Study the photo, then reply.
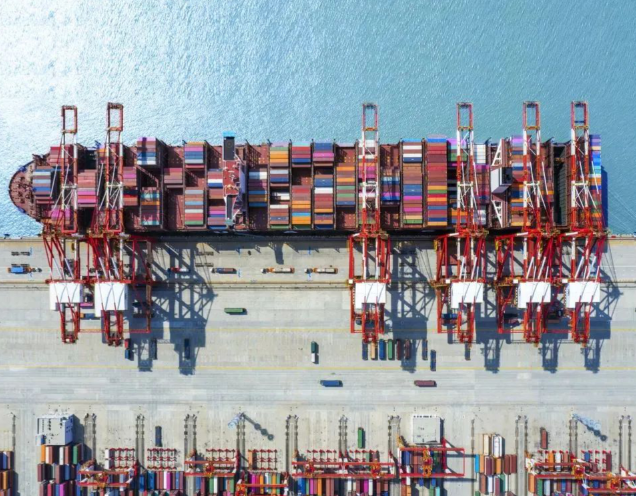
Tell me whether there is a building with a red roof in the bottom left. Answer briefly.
No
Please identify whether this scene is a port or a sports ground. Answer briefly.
port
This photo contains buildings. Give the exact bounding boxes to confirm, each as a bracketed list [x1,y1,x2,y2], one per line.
[37,412,76,445]
[407,411,440,442]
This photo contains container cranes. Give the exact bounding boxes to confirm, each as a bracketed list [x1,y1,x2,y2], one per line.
[491,101,553,342]
[432,102,484,342]
[576,466,636,492]
[237,469,288,496]
[396,436,463,477]
[184,448,238,477]
[91,101,161,342]
[292,448,342,477]
[534,101,605,342]
[343,449,394,477]
[525,450,586,479]
[348,102,390,342]
[42,104,120,342]
[78,458,138,485]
